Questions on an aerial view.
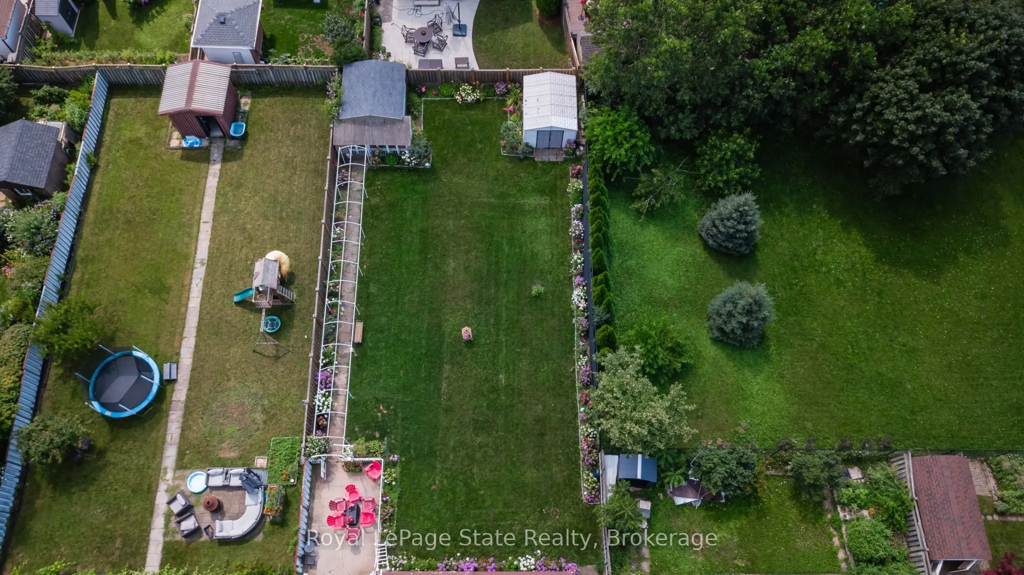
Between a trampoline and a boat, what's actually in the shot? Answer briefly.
trampoline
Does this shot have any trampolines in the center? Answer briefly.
No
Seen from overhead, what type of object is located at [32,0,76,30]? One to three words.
shed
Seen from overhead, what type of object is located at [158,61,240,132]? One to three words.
shed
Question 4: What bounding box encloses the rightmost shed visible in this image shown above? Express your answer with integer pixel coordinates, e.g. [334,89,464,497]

[908,455,992,575]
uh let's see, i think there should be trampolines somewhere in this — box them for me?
[73,346,166,420]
